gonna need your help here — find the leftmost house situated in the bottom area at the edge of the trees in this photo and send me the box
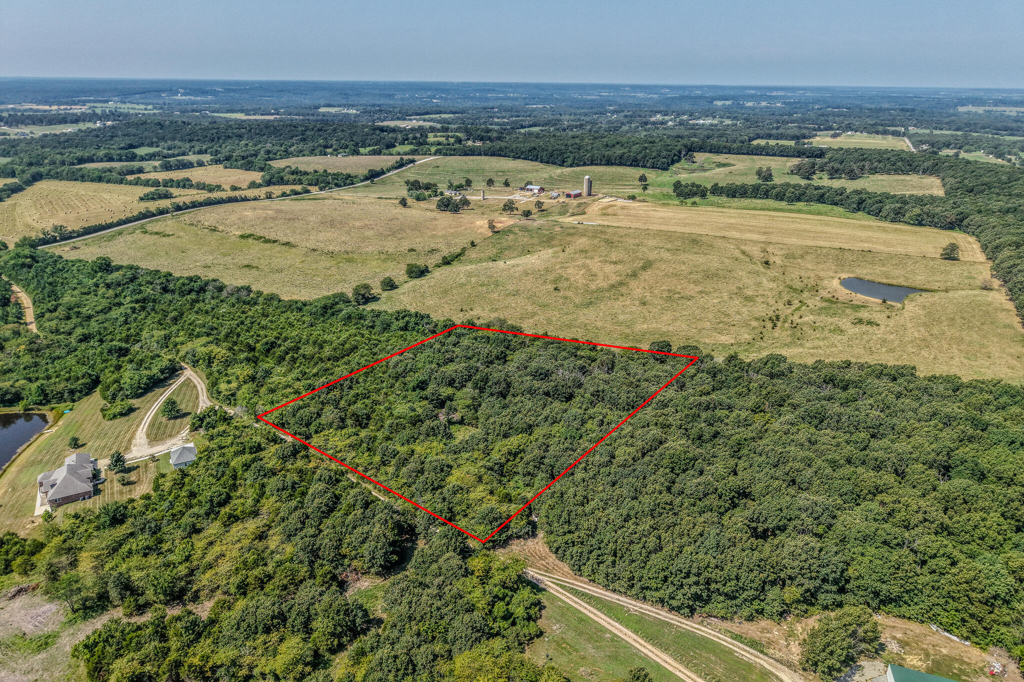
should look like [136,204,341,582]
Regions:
[37,452,97,509]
